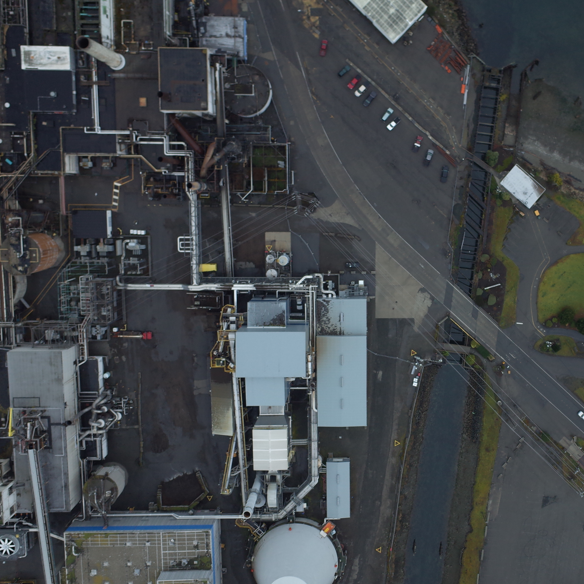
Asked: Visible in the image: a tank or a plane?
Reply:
tank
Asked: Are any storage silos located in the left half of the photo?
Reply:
Yes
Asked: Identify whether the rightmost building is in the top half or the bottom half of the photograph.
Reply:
top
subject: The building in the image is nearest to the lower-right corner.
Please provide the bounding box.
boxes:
[326,455,351,519]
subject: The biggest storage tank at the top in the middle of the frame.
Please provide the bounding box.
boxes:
[226,59,274,115]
